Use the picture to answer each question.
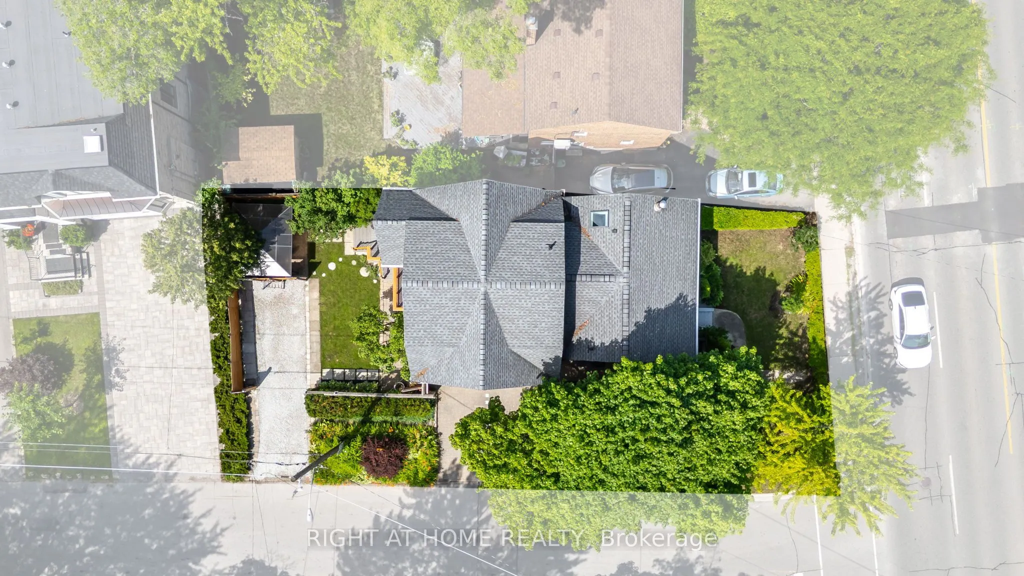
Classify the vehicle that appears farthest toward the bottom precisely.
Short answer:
car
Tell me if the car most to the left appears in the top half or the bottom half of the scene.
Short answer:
top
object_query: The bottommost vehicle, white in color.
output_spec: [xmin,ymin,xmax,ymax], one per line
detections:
[888,282,938,371]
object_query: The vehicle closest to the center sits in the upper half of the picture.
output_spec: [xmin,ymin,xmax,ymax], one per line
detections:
[584,154,677,196]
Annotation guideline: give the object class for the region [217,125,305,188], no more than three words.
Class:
shed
